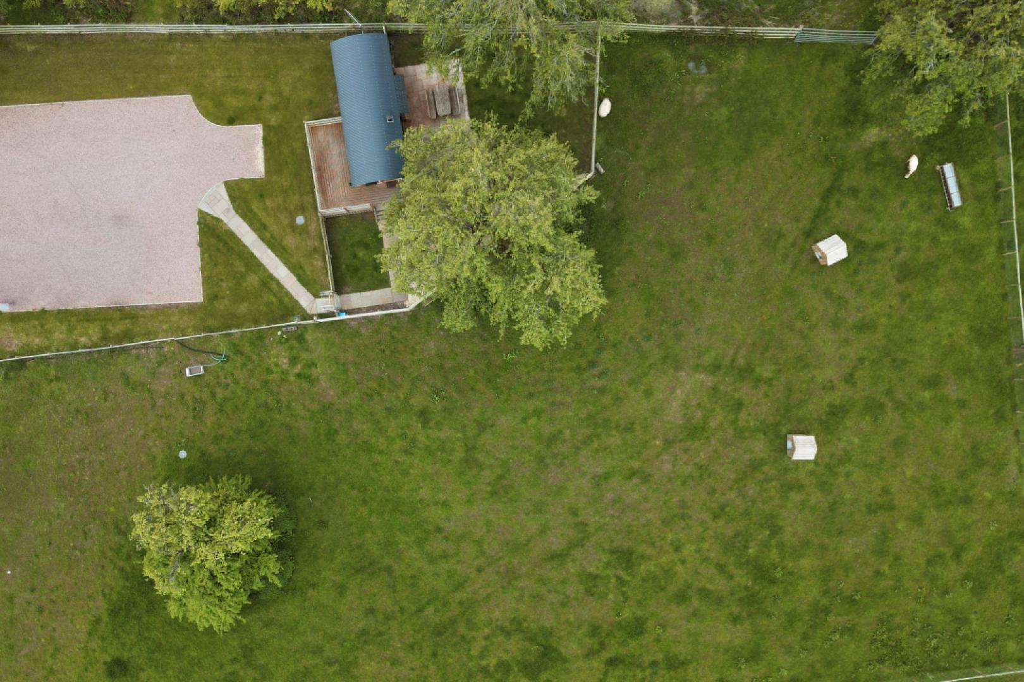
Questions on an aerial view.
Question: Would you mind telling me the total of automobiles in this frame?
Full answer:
The count of automobiles is 0.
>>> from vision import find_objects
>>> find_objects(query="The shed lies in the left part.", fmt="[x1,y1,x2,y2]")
[329,34,409,185]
